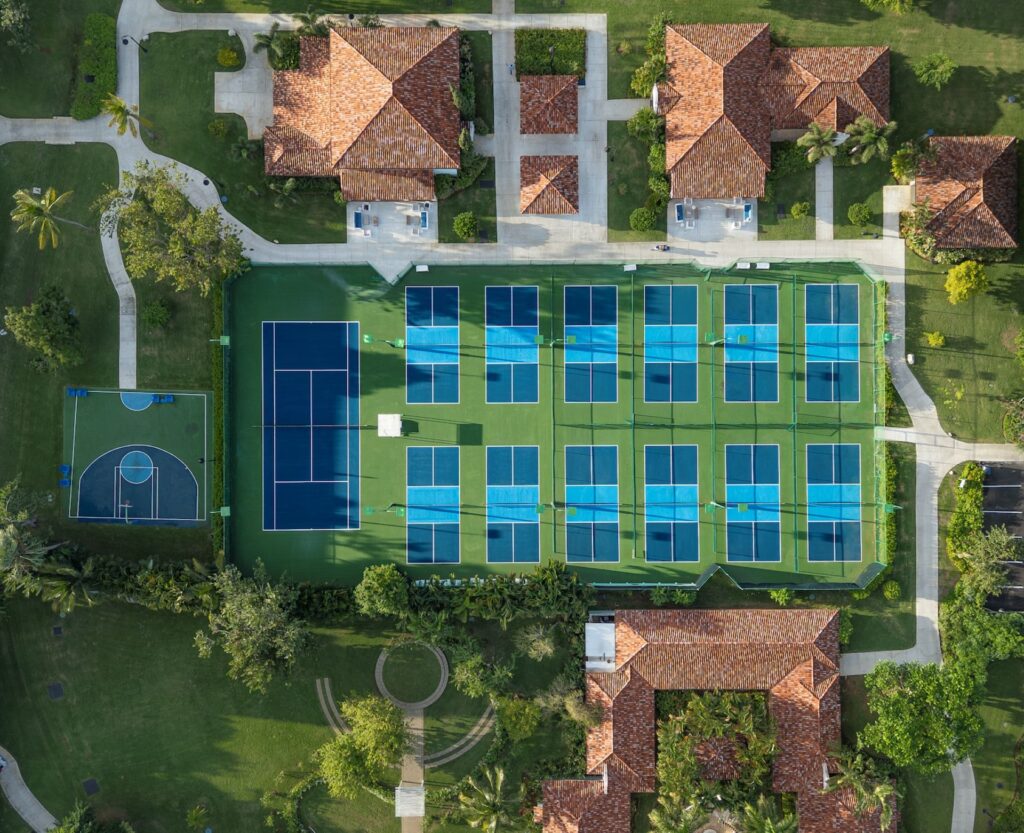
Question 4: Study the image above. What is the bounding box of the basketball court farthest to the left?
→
[62,387,211,526]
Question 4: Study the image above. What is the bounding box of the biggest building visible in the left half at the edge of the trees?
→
[264,26,474,202]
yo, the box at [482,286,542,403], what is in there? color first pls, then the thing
blue sports court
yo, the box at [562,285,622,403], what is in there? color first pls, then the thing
blue sports court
